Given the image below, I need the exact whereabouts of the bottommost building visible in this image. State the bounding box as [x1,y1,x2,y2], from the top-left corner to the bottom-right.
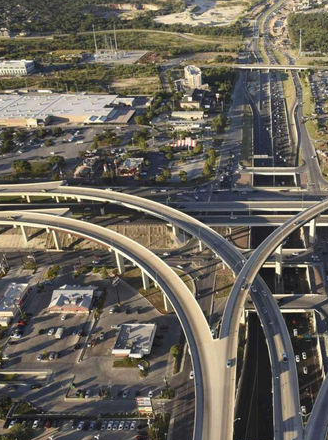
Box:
[111,323,158,364]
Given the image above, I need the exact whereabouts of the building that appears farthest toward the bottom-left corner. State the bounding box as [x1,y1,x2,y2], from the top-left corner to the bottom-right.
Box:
[0,284,29,326]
